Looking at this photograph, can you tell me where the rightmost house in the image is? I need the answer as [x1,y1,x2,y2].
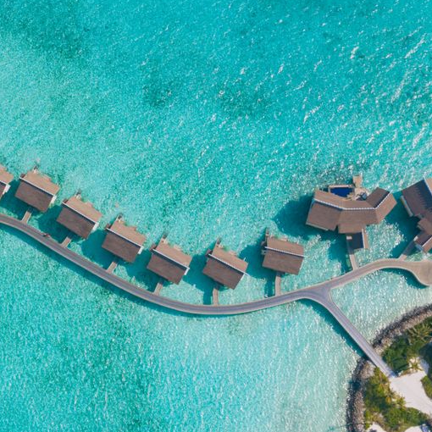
[259,229,306,277]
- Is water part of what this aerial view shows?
Yes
